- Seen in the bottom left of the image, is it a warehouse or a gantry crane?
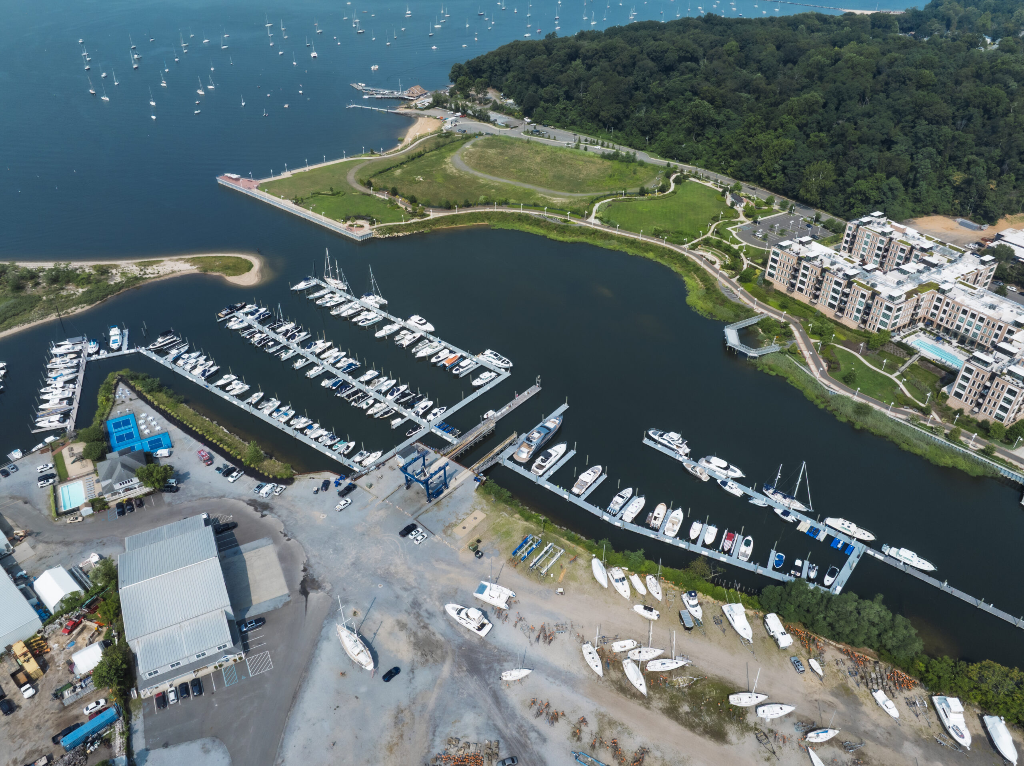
warehouse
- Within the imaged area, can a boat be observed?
Yes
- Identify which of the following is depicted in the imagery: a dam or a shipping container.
shipping container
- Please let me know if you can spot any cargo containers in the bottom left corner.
Yes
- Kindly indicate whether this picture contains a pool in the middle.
No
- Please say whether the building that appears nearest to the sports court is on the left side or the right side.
left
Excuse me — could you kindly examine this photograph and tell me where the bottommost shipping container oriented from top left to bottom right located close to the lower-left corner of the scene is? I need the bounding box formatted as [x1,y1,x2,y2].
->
[16,647,48,686]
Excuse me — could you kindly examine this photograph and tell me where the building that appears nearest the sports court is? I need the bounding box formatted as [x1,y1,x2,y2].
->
[104,450,154,509]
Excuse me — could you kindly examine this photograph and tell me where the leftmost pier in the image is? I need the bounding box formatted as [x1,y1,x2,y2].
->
[31,342,89,434]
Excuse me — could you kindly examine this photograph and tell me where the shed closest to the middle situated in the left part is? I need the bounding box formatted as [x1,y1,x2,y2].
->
[395,445,420,466]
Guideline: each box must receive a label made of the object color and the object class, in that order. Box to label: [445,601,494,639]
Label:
white boat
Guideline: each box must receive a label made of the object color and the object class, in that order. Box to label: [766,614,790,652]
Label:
white camper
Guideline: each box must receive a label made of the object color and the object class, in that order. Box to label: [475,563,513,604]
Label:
white boat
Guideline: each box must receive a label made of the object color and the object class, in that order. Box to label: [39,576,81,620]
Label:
white tent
